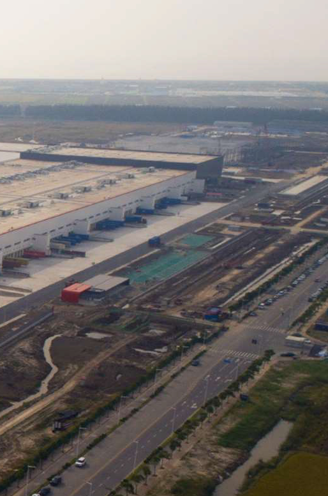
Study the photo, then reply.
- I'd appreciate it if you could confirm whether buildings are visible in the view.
Yes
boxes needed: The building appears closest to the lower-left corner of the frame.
[61,272,124,302]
